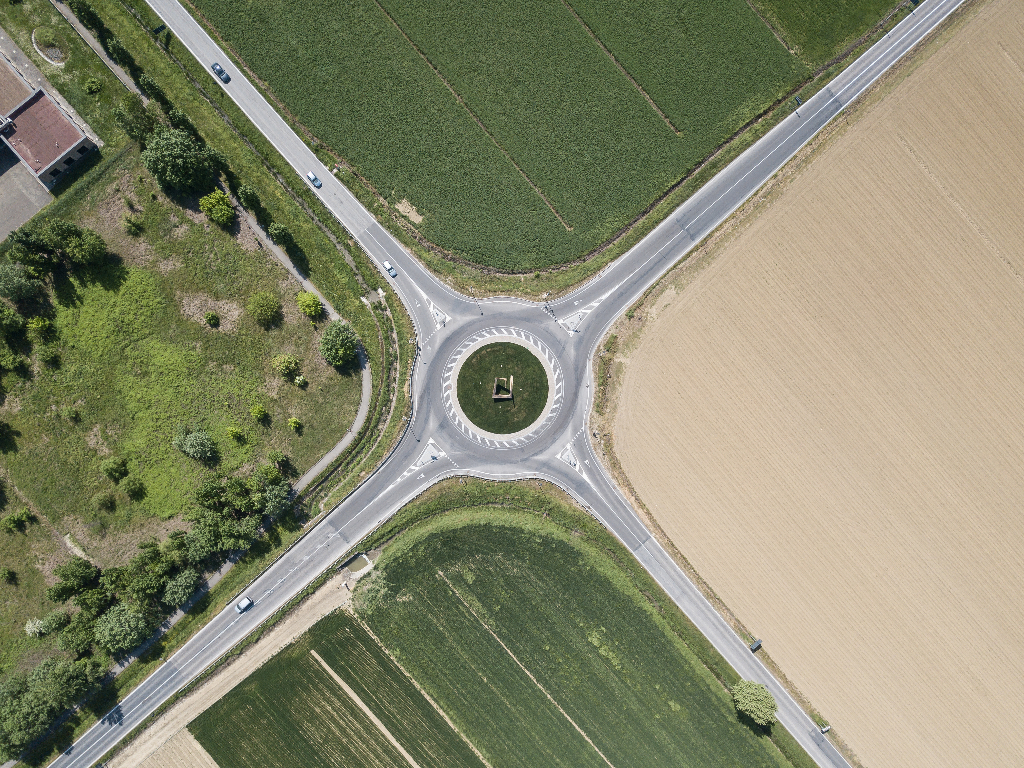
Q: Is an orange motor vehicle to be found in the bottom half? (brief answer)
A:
No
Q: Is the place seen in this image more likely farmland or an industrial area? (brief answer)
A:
farmland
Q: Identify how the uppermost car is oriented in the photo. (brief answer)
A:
diagonally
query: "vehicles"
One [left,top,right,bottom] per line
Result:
[380,258,397,277]
[208,59,228,82]
[304,169,321,187]
[233,596,252,614]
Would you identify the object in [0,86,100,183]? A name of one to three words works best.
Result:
building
